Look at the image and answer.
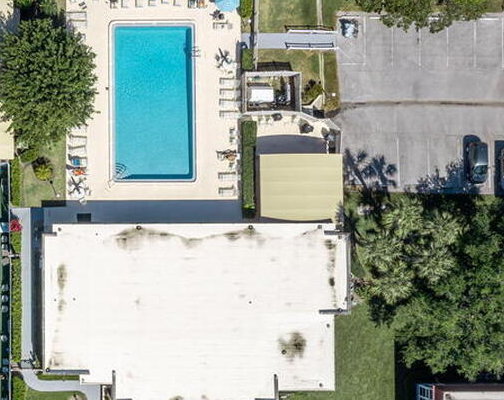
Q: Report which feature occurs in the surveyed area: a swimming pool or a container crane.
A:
swimming pool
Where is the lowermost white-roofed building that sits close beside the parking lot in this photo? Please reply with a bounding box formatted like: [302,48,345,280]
[42,224,351,400]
